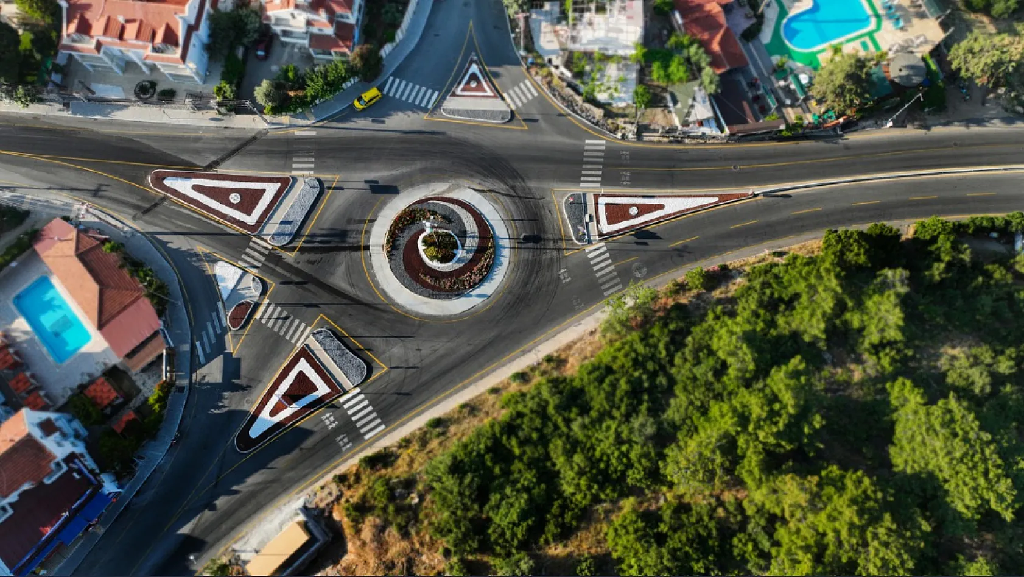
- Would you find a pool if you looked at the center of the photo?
No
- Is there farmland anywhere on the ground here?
No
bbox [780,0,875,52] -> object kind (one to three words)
swimming pool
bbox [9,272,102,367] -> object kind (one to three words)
swimming pool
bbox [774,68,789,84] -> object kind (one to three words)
umbrella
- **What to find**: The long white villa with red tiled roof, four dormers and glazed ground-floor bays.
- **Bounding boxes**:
[58,0,225,89]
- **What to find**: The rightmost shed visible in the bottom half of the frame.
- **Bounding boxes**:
[246,519,314,577]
